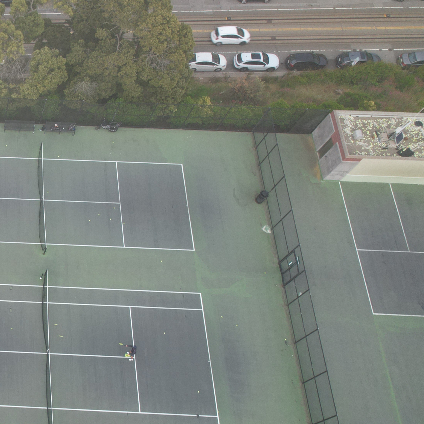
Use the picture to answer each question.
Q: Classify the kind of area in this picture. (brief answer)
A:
sports ground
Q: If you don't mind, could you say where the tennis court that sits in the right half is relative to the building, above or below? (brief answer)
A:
below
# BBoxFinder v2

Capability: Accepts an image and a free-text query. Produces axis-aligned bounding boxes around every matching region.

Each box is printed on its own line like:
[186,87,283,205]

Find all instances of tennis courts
[340,182,424,318]
[0,284,219,424]
[0,157,195,251]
